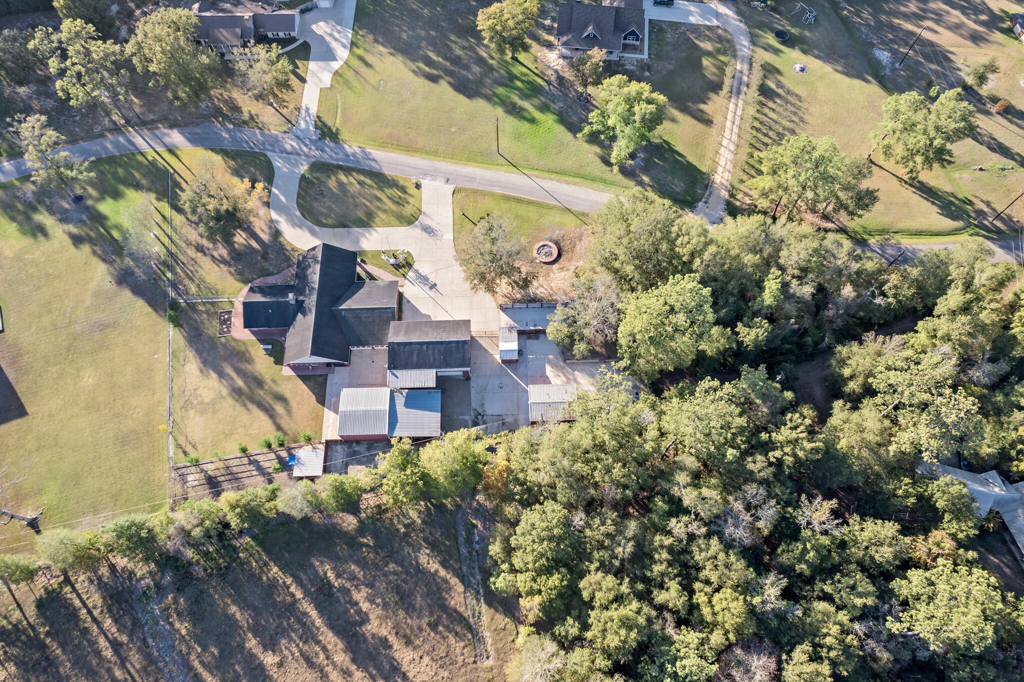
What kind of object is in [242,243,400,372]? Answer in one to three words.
house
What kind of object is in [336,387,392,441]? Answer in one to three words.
shed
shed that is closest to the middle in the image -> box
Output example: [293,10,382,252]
[499,327,517,365]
